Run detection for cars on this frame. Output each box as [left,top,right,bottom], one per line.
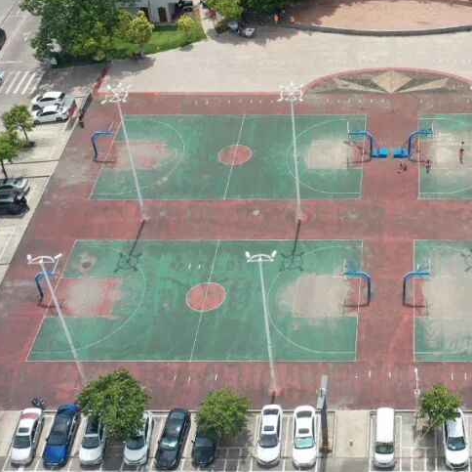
[0,29,8,47]
[156,414,190,470]
[121,415,155,468]
[290,410,318,466]
[442,414,471,470]
[189,431,218,468]
[74,422,108,470]
[254,410,283,465]
[29,93,67,109]
[0,191,32,213]
[0,176,36,196]
[29,106,74,125]
[7,411,47,467]
[42,411,80,467]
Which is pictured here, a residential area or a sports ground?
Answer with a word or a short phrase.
sports ground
